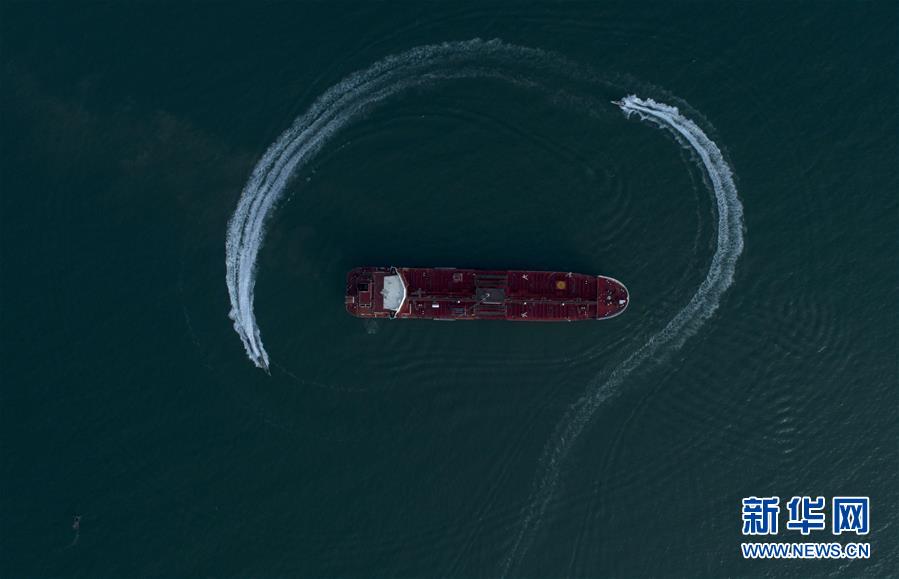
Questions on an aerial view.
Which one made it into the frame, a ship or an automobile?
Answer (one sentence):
The image shows a ship.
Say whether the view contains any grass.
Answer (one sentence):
No, grass can't be seen anywhere here.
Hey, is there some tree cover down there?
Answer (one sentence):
No, no tree cover is visible.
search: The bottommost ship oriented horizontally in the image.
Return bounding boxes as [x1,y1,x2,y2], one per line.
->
[345,267,629,322]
